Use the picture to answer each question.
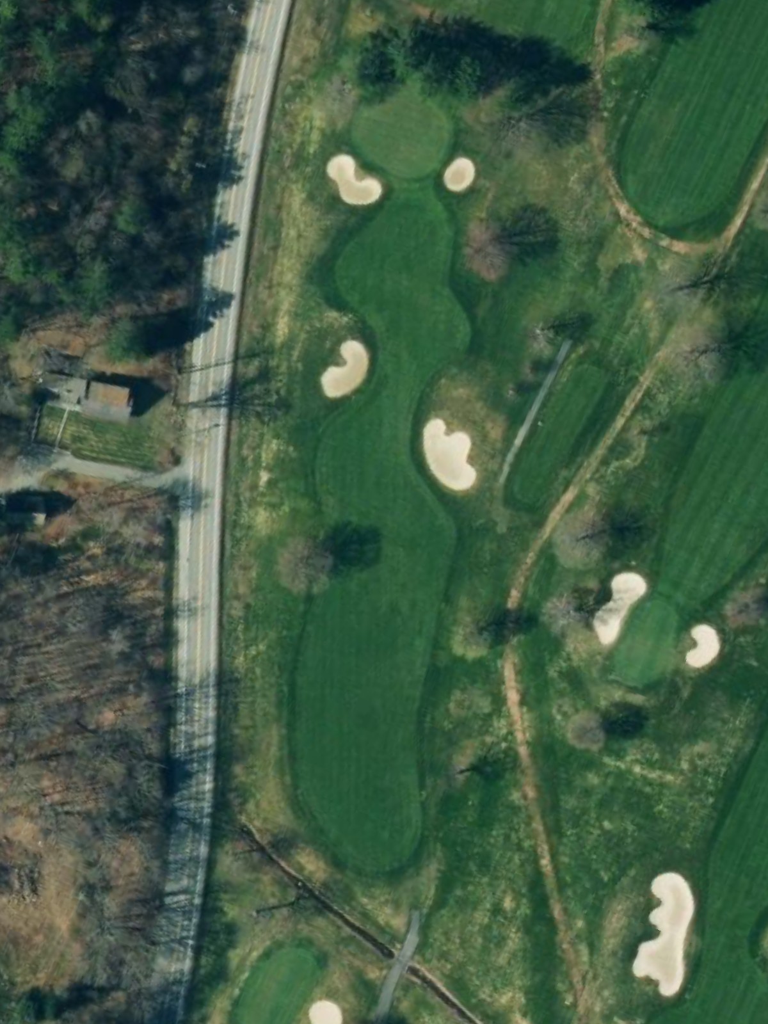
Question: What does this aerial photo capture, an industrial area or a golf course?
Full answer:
This image shows a golf course.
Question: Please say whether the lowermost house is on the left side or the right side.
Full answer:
The lowermost house sits on the left side.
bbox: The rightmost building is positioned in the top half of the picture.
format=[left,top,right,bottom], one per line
[78,378,131,425]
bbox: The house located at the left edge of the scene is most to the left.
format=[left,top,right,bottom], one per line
[2,494,46,528]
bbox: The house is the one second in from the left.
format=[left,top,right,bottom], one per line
[41,374,87,414]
